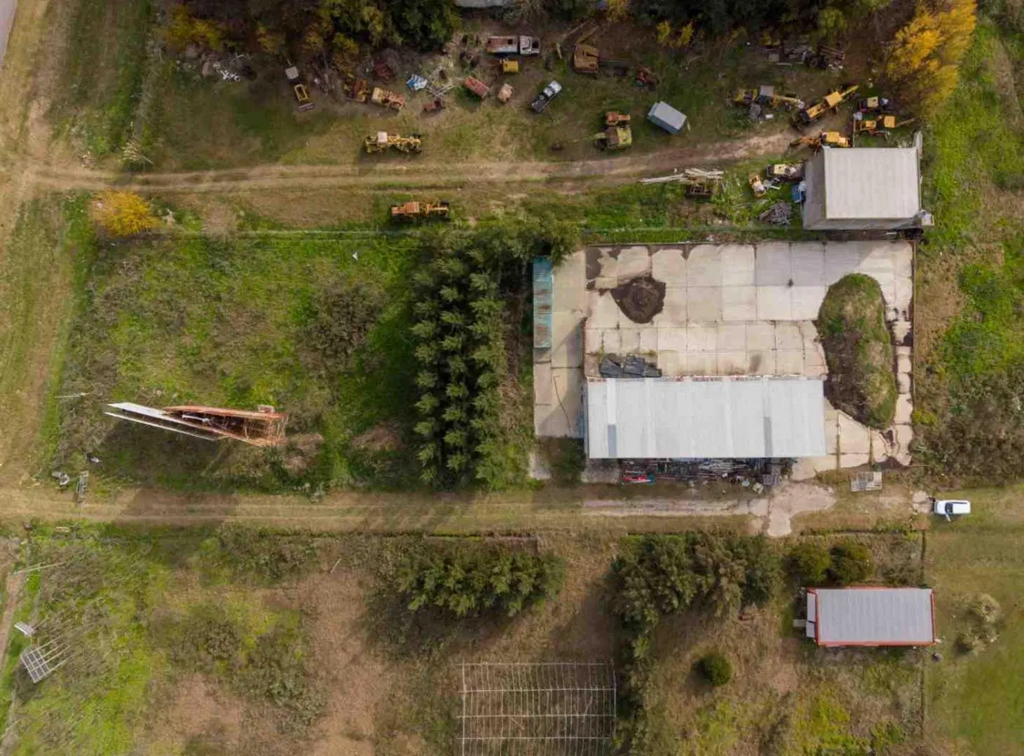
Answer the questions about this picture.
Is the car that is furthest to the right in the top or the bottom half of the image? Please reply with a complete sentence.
You can find the car that is furthest to the right in the bottom half.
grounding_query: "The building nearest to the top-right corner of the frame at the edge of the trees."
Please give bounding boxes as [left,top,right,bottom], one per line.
[806,146,920,229]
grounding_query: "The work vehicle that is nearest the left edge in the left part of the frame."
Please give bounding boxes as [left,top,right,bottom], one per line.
[292,81,315,112]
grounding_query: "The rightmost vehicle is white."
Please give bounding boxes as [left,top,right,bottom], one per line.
[936,503,975,524]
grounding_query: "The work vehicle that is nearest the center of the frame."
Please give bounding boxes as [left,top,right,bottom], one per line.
[391,200,449,220]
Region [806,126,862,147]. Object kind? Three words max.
work vehicle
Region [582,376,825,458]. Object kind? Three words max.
shed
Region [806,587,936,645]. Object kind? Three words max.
building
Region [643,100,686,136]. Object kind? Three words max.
trailer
